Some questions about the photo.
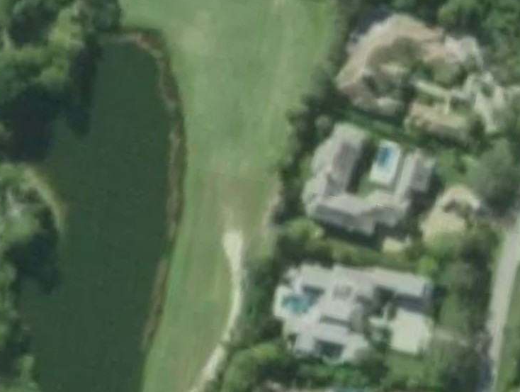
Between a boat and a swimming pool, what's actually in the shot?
swimming pool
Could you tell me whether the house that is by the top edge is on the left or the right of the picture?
right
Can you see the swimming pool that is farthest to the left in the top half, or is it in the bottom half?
bottom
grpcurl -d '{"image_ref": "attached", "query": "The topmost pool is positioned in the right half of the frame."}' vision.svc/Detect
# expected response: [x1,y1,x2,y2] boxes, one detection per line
[371,140,401,185]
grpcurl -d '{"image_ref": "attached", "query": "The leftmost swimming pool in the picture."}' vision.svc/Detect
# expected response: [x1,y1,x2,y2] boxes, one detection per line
[273,281,323,328]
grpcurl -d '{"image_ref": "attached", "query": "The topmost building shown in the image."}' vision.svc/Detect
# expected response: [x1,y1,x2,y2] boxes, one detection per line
[329,8,464,114]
